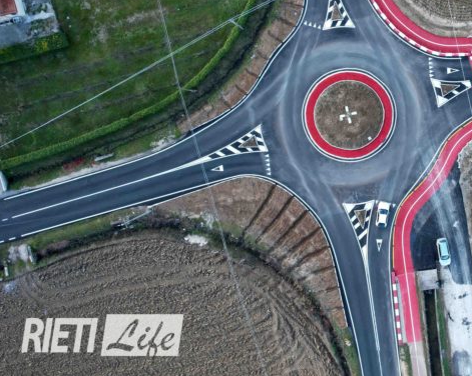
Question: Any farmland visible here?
Yes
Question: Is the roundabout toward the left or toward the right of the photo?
right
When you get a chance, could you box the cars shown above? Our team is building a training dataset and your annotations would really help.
[376,201,389,227]
[437,239,451,265]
